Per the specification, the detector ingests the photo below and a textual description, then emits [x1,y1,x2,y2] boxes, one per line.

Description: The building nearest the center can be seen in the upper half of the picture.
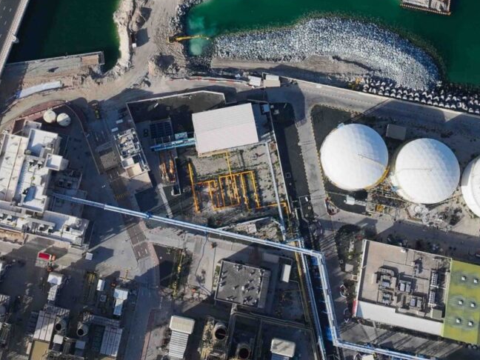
[192,103,258,157]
